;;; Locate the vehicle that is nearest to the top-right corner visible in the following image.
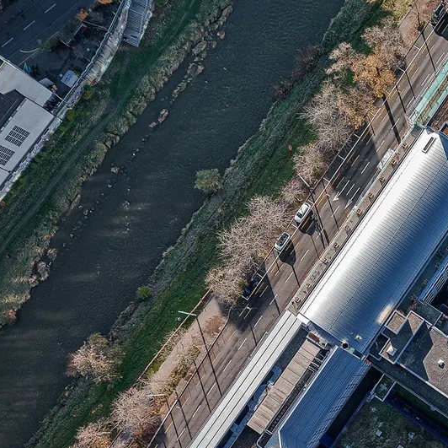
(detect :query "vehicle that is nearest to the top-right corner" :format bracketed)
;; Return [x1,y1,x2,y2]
[429,5,446,25]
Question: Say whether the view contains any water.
Yes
